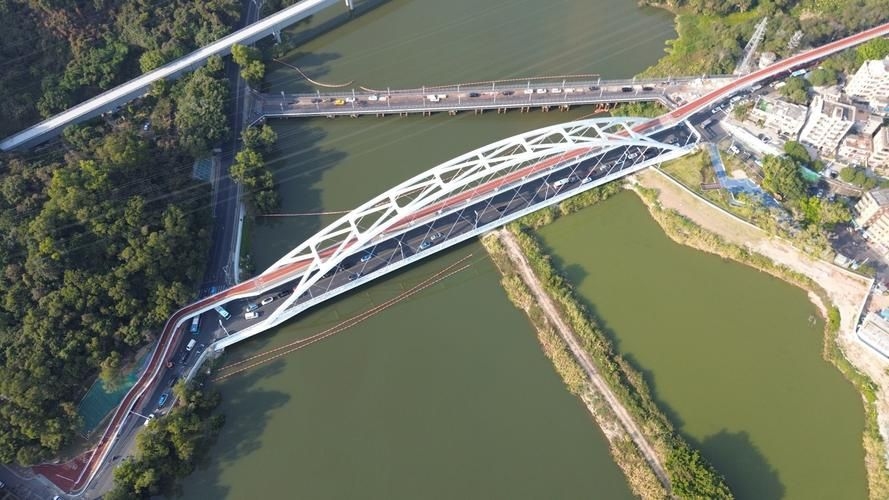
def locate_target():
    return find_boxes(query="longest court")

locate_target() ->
[75,352,152,438]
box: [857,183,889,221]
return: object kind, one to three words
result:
building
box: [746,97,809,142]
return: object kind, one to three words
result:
house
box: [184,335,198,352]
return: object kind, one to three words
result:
vehicle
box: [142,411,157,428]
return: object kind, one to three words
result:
car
